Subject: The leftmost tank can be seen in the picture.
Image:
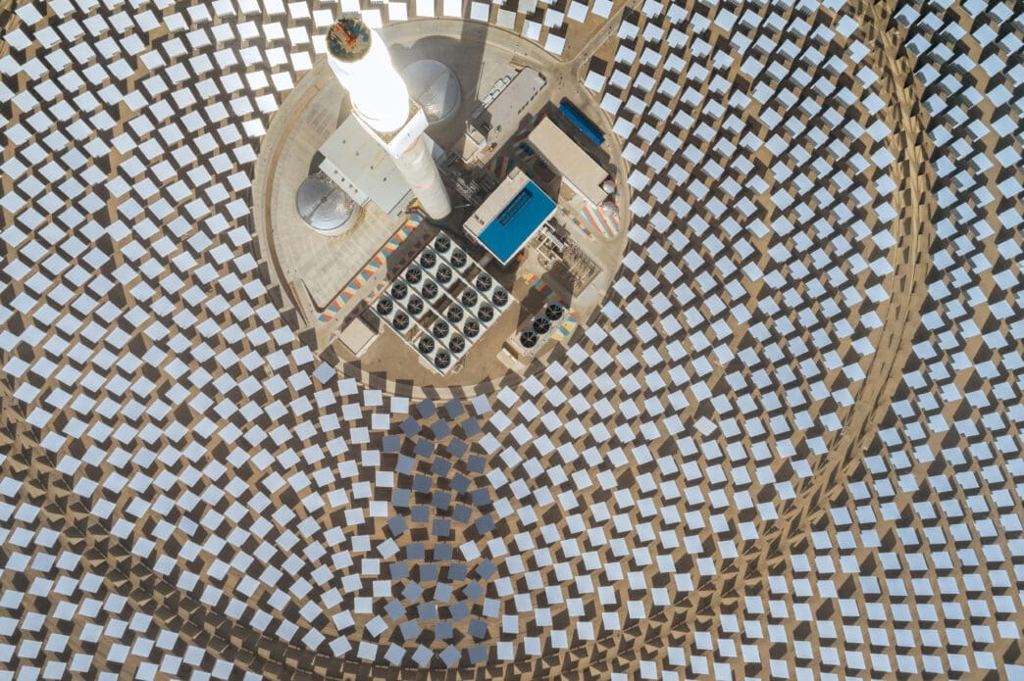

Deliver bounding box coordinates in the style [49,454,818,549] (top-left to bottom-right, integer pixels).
[295,171,363,237]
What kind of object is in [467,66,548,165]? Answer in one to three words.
building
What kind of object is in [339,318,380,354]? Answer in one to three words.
house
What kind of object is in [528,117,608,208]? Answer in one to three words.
building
